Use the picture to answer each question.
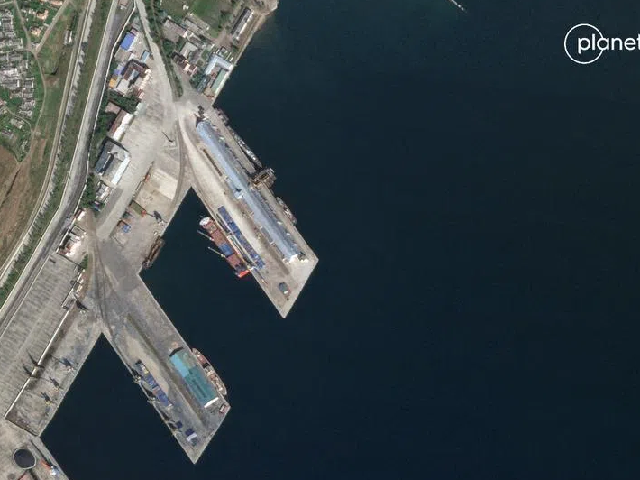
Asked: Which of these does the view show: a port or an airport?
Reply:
port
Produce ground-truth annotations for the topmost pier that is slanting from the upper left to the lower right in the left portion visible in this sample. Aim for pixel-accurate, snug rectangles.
[190,105,319,317]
